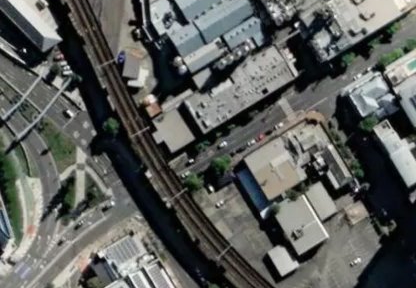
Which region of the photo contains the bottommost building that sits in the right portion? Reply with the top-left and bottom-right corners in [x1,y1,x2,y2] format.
[268,245,299,277]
